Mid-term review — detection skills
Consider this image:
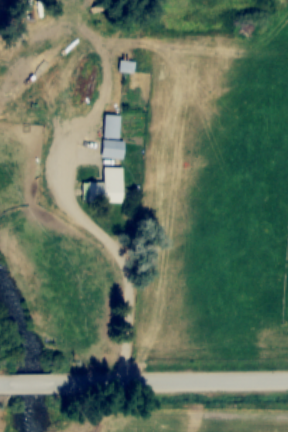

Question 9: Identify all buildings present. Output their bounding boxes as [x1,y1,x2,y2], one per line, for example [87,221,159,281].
[105,114,122,138]
[103,139,126,159]
[120,60,136,72]
[84,167,126,202]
